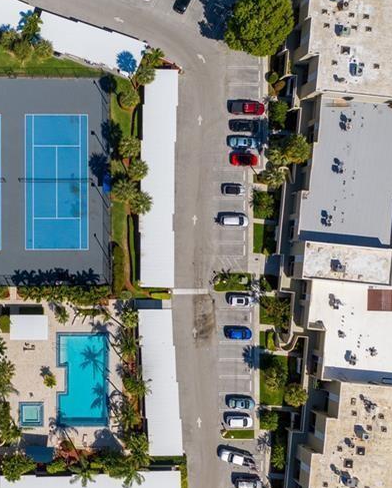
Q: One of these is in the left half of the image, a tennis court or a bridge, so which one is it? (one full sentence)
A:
There is a tennis court in the left half of the image.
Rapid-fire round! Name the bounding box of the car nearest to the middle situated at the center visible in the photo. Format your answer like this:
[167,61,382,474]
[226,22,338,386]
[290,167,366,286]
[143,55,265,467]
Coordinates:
[220,214,248,227]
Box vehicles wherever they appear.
[173,0,189,16]
[226,416,255,430]
[227,397,255,411]
[229,119,257,132]
[228,135,256,148]
[222,449,253,467]
[220,214,248,227]
[229,101,262,114]
[227,295,255,308]
[235,478,263,488]
[230,152,255,166]
[225,327,252,340]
